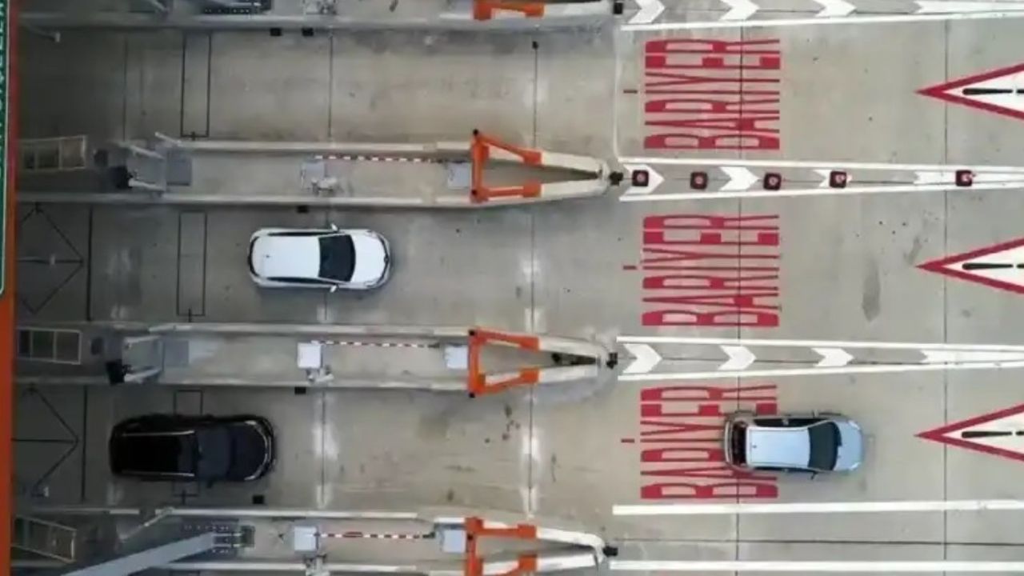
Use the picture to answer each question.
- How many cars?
3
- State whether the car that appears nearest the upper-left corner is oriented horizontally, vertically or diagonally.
horizontally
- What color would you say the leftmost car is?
black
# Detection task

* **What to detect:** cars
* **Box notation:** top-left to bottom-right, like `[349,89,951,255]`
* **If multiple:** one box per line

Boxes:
[725,411,866,479]
[248,224,394,293]
[108,413,275,486]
